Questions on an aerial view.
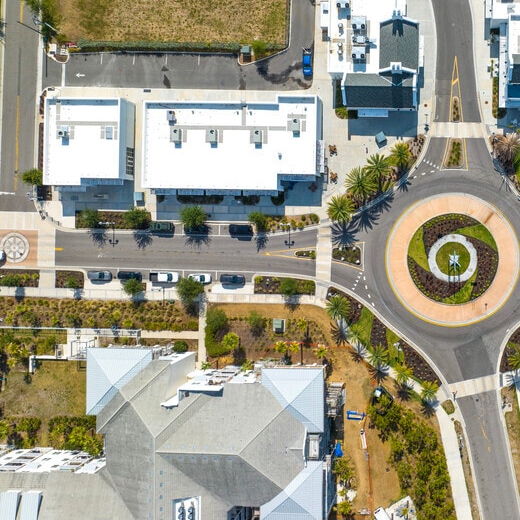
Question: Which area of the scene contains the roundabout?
right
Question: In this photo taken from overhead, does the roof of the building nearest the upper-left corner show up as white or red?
white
